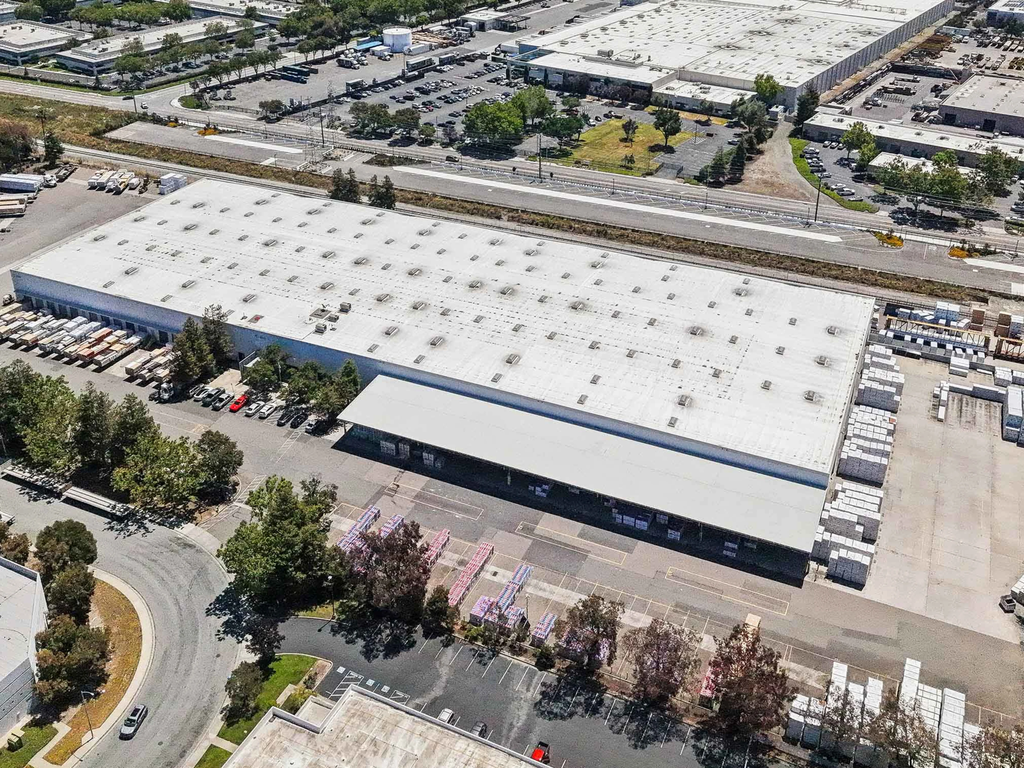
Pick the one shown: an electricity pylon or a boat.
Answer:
electricity pylon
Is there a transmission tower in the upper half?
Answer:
Yes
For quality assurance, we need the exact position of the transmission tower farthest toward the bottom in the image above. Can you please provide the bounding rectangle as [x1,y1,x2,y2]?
[296,120,328,172]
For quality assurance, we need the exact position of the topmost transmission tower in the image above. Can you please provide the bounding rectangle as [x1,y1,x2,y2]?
[318,78,343,125]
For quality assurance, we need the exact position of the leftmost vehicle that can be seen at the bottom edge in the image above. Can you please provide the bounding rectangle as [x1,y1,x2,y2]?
[114,699,152,740]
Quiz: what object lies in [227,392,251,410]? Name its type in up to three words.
car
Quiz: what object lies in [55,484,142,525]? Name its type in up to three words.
trailer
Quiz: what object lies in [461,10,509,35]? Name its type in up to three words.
building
